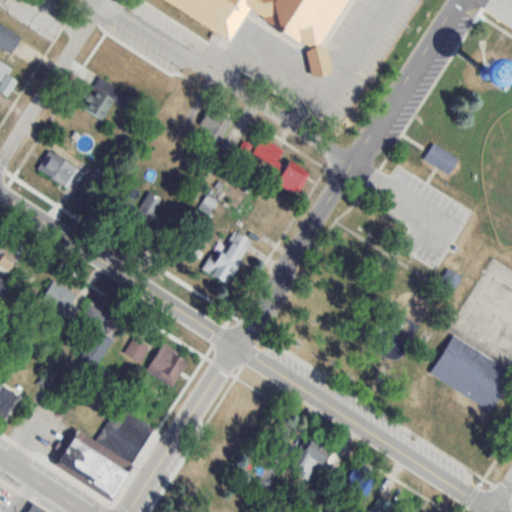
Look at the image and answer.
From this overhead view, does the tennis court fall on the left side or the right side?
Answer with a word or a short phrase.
right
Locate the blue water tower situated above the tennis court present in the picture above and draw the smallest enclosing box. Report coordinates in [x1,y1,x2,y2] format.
[478,58,512,86]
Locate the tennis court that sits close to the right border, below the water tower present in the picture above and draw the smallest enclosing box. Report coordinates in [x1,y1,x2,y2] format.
[450,259,512,366]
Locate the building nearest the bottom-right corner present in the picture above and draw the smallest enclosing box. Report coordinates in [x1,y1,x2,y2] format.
[430,334,506,406]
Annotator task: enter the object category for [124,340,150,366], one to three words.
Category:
building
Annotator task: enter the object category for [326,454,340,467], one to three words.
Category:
gazebo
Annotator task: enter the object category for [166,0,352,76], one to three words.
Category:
building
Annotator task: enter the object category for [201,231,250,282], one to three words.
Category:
house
